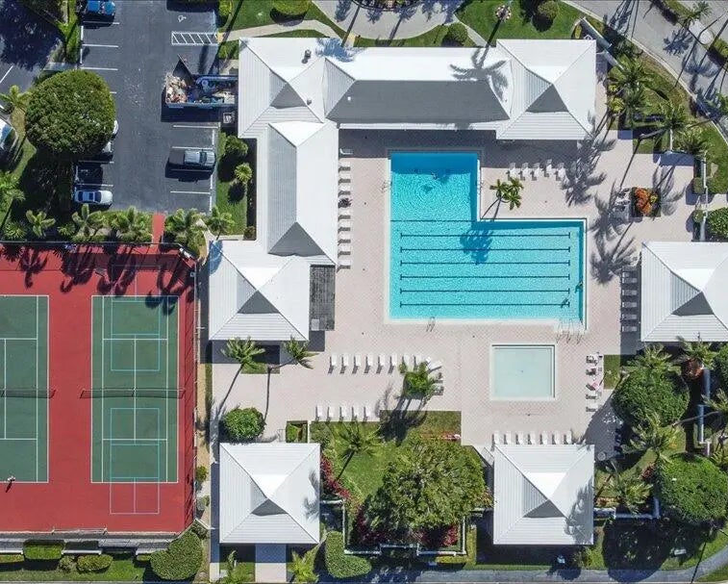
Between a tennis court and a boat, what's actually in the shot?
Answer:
tennis court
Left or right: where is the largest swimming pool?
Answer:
right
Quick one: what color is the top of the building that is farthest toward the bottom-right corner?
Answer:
white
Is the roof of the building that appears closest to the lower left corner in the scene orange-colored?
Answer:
No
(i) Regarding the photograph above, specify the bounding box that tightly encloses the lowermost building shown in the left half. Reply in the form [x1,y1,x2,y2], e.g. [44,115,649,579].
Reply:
[220,443,320,543]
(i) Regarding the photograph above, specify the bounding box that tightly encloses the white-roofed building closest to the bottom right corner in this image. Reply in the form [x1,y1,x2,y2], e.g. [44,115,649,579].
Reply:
[494,443,594,545]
